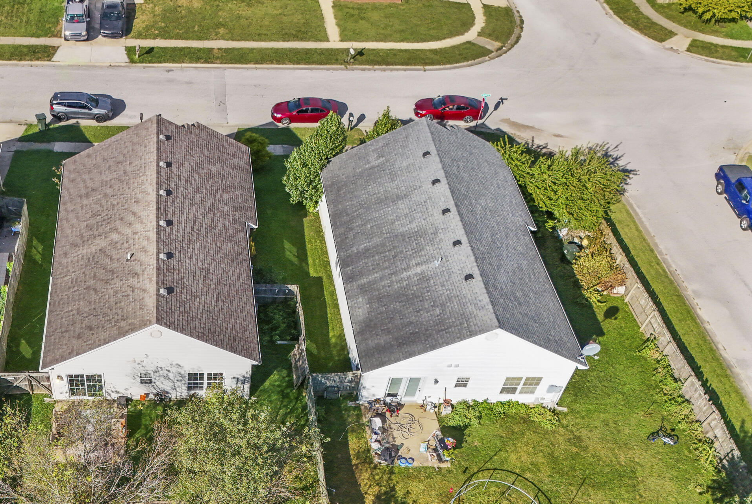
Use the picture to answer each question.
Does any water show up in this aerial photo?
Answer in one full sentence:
No, there is no water in the image.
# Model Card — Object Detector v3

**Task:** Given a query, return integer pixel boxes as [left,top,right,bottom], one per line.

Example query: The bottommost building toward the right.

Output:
[319,119,591,404]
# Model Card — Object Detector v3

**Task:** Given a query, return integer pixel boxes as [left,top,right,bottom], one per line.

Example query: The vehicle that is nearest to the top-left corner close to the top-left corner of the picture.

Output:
[63,0,92,35]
